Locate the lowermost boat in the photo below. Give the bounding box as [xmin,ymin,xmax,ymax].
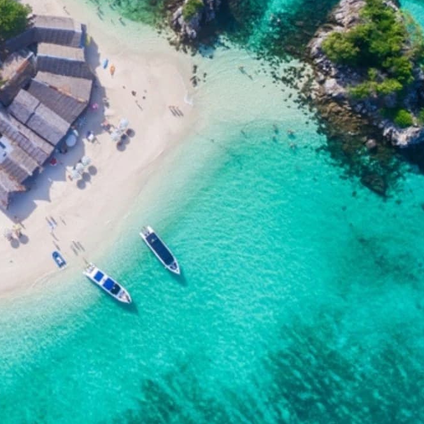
[80,262,131,305]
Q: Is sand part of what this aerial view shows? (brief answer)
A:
Yes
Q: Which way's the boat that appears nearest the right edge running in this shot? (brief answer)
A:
on a diagonal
